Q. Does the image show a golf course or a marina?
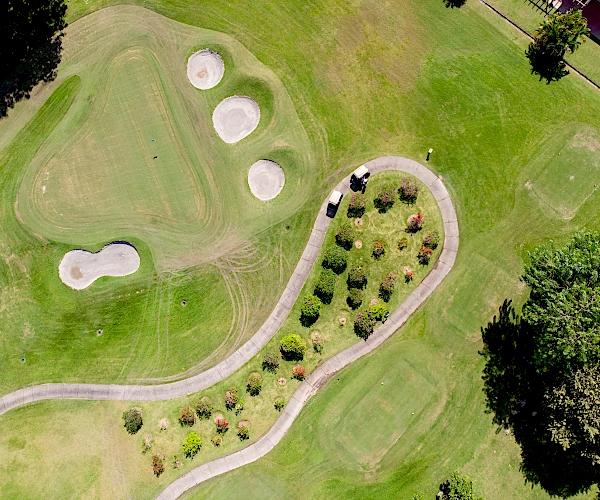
golf course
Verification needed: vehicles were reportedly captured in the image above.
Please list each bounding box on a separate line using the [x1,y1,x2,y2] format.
[351,164,370,182]
[327,191,342,209]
